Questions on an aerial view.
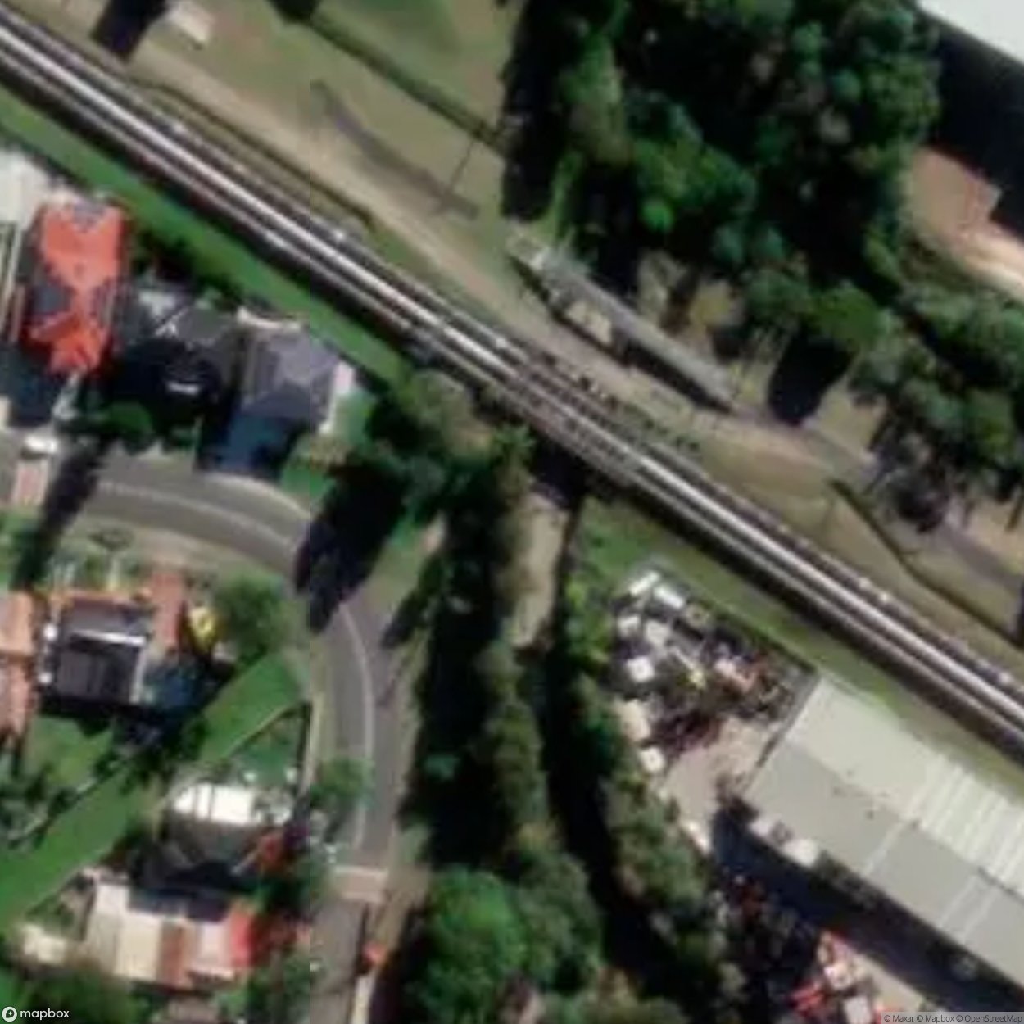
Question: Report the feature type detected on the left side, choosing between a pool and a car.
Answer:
car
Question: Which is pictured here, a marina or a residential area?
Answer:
residential area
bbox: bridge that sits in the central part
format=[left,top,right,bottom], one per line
[498,350,670,489]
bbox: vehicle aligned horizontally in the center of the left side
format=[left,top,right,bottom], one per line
[25,437,57,453]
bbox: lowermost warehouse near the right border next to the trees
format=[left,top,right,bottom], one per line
[747,676,1024,983]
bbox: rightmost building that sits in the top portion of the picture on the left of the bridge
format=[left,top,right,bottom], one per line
[235,303,358,432]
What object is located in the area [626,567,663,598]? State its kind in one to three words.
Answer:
truck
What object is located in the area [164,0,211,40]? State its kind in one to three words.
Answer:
building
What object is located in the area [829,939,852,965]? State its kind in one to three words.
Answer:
car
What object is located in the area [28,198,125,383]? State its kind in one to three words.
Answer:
house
